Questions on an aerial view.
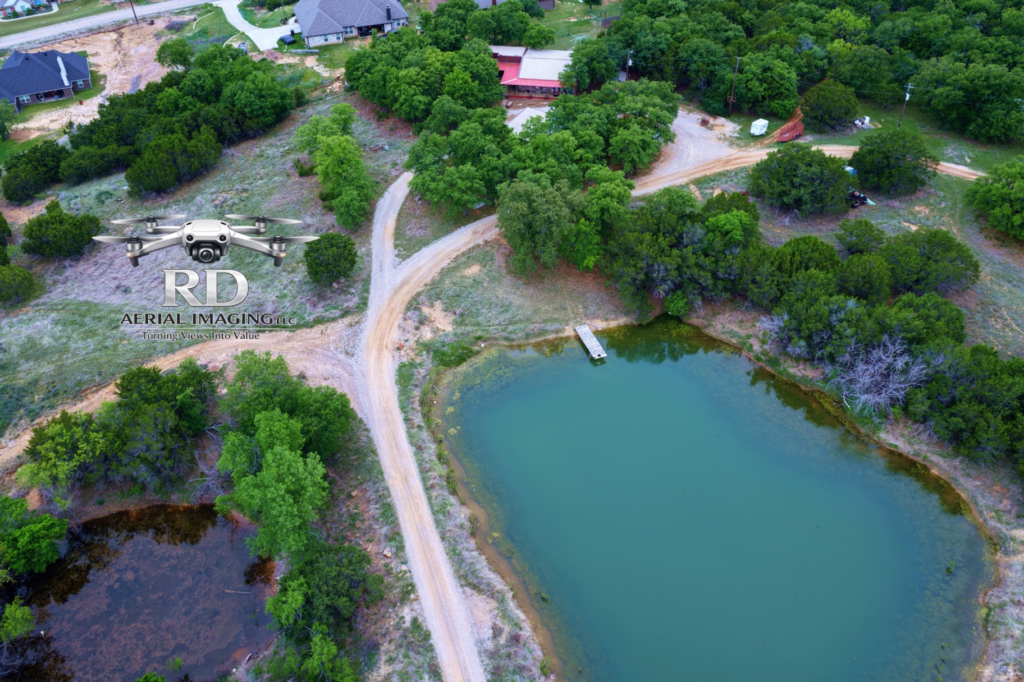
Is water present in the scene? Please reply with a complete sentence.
Yes, water shows up in the scene.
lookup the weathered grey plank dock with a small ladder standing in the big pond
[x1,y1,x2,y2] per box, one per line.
[575,325,607,361]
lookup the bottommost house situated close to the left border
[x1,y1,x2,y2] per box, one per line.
[0,38,91,105]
